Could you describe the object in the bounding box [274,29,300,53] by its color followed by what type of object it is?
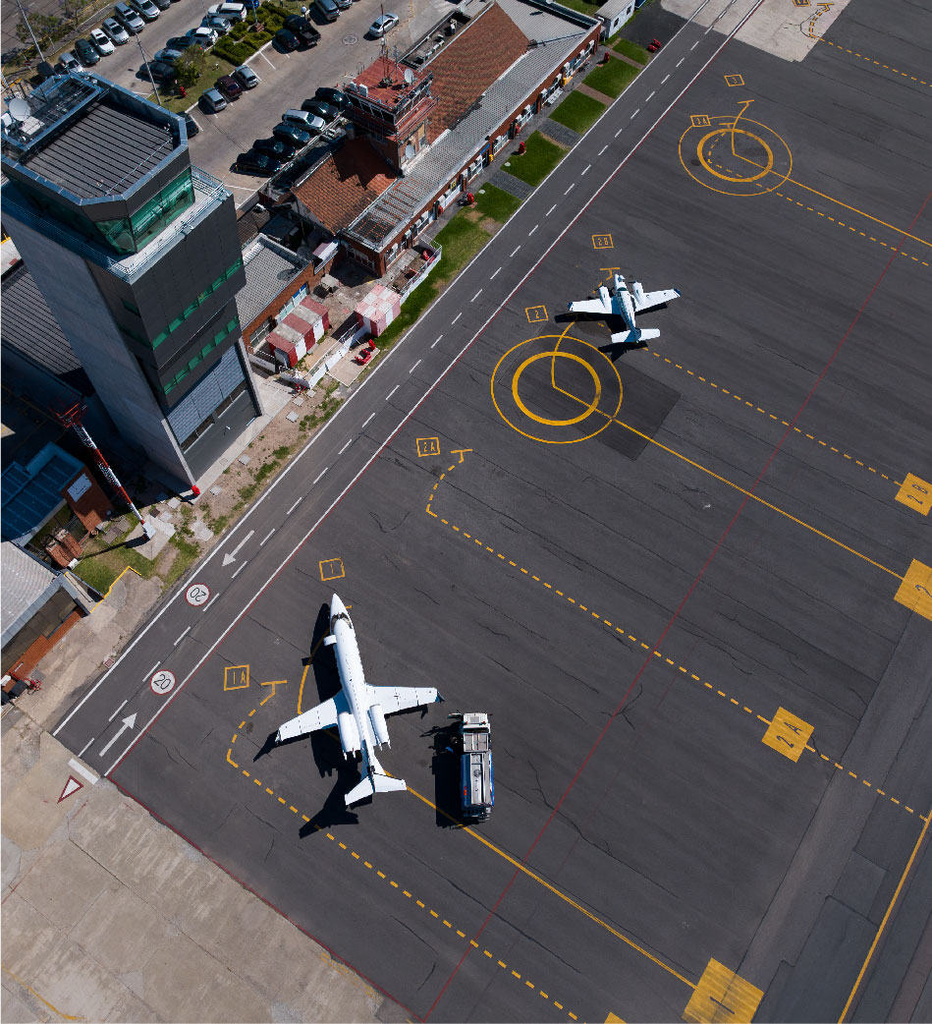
black car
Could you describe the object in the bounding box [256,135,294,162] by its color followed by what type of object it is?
black car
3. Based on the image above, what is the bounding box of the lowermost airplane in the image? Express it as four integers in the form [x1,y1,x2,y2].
[276,594,443,805]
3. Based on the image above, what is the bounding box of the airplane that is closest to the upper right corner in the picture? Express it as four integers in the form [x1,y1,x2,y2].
[567,271,683,343]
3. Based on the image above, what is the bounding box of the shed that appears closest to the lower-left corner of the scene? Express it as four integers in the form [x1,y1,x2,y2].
[0,527,89,696]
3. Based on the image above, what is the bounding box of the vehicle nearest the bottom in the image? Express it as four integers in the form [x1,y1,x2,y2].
[450,714,495,824]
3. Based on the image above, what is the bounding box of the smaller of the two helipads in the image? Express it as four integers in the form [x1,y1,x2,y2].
[679,115,792,196]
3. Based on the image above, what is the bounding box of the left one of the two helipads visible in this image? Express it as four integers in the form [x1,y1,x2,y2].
[491,334,623,444]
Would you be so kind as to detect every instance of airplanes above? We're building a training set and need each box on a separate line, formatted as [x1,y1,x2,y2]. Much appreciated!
[567,271,683,343]
[276,594,443,805]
